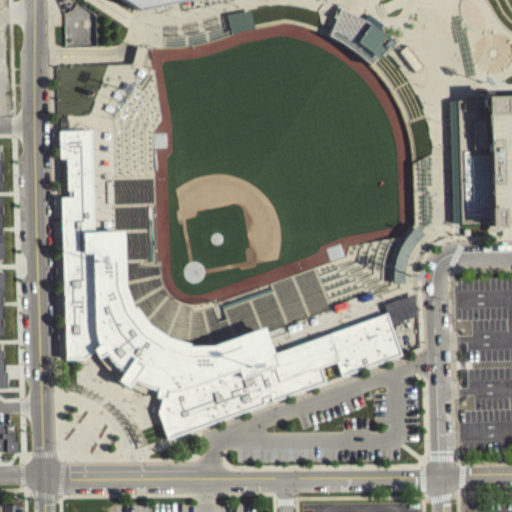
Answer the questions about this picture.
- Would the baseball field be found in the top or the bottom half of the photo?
top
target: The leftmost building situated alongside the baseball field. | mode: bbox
[58,130,97,361]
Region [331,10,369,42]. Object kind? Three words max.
building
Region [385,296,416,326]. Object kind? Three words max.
building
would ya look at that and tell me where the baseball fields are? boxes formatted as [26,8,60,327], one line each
[151,26,412,308]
